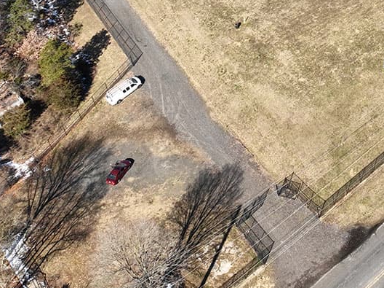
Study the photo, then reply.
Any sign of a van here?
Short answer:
Yes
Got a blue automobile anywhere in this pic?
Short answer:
No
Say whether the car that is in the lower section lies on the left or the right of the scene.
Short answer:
left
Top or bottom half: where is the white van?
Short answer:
top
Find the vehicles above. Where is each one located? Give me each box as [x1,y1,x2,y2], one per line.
[100,75,145,112]
[103,156,137,191]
